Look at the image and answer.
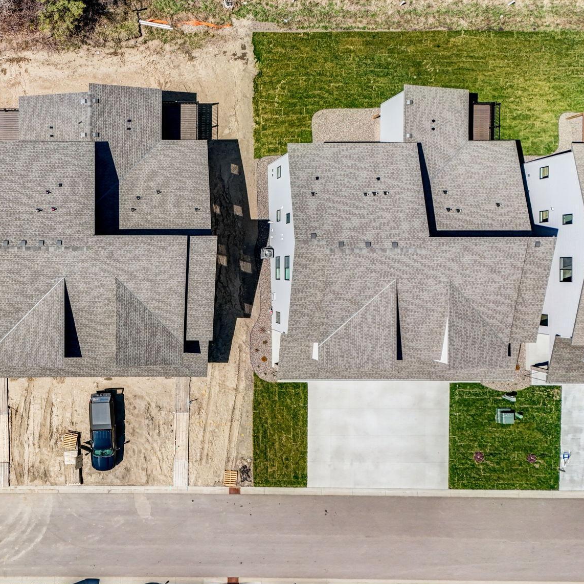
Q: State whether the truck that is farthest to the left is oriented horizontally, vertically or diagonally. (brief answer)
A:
vertically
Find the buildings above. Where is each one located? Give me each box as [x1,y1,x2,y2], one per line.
[271,85,556,381]
[0,83,218,378]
